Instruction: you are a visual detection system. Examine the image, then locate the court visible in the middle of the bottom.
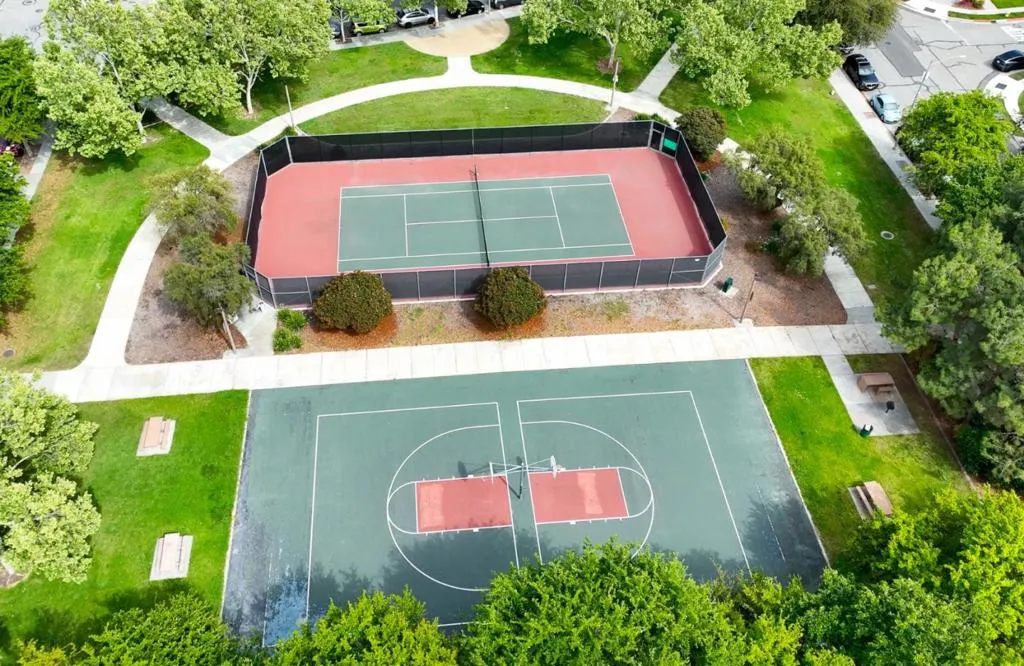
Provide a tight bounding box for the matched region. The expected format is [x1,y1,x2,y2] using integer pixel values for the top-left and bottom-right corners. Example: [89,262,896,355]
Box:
[217,359,859,666]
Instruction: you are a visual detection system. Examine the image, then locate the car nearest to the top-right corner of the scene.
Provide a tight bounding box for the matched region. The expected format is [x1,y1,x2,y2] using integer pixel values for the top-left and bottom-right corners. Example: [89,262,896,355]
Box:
[990,47,1024,68]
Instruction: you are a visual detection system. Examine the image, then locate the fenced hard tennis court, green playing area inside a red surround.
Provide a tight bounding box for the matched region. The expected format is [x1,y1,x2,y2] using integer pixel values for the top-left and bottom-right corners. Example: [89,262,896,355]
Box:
[246,147,722,314]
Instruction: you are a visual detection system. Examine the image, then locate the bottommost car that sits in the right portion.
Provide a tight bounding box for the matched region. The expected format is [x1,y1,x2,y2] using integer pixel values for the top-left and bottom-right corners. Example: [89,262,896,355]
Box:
[868,94,900,121]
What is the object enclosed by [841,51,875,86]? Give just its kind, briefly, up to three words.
car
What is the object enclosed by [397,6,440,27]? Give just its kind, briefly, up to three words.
car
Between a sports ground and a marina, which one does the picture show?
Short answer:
sports ground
